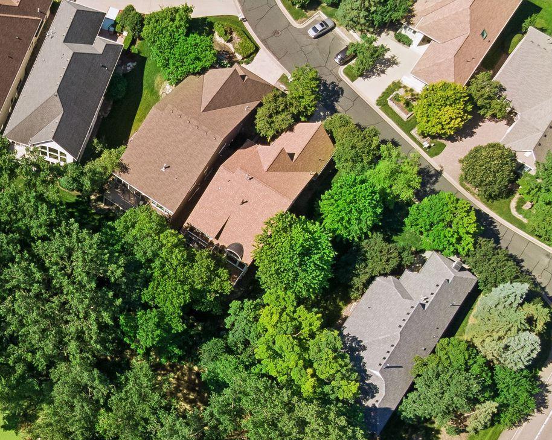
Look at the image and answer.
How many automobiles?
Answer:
two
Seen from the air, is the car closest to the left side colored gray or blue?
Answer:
gray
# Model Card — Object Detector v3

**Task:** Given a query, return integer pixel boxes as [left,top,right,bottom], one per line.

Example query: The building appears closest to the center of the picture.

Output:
[182,121,334,287]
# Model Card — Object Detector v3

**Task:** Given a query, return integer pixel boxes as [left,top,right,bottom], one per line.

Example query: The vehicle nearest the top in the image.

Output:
[306,18,338,39]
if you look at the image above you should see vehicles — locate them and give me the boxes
[306,18,338,39]
[332,42,359,65]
